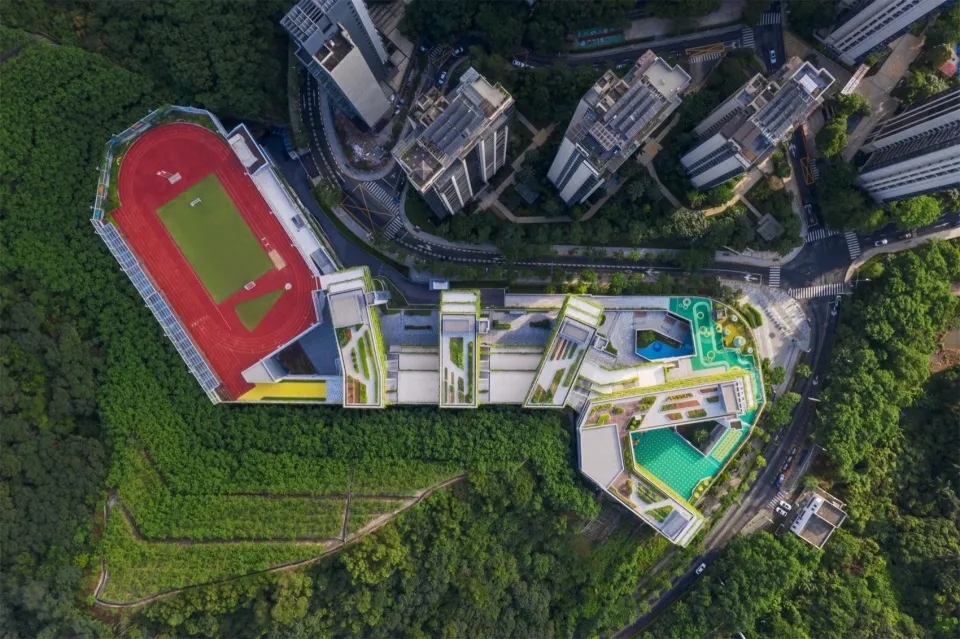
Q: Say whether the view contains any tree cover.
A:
Yes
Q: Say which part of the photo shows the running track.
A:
left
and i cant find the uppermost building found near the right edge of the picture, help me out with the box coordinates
[813,0,953,65]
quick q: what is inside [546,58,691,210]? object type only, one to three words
building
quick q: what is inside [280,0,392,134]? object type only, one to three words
building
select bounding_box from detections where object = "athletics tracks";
[102,113,322,402]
